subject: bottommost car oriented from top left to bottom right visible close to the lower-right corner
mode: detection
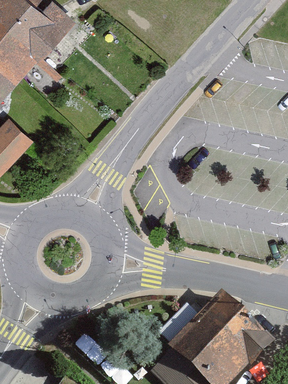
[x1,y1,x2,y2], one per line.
[256,313,276,333]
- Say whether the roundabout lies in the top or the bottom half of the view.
bottom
